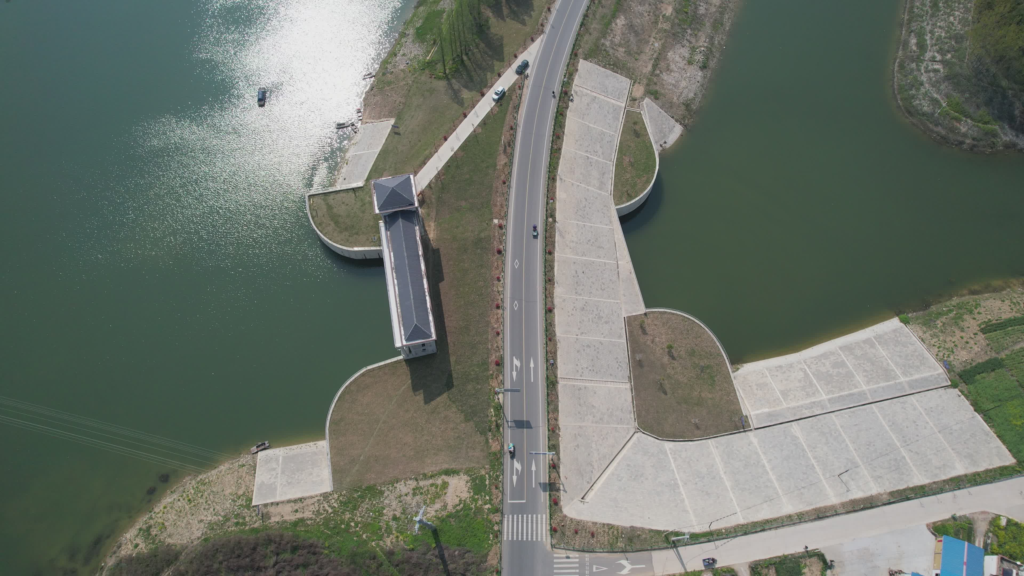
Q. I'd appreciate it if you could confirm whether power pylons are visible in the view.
Yes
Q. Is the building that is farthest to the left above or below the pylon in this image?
above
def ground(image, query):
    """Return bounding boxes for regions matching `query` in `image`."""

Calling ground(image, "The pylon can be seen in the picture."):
[409,505,439,536]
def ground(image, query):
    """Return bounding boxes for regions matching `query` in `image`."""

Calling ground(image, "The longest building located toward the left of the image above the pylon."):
[370,172,437,356]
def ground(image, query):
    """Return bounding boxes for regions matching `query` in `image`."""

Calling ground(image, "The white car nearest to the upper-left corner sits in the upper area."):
[491,84,506,100]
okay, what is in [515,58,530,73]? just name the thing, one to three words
car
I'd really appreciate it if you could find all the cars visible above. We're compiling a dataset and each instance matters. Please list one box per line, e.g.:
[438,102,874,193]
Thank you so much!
[491,84,506,100]
[515,58,530,73]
